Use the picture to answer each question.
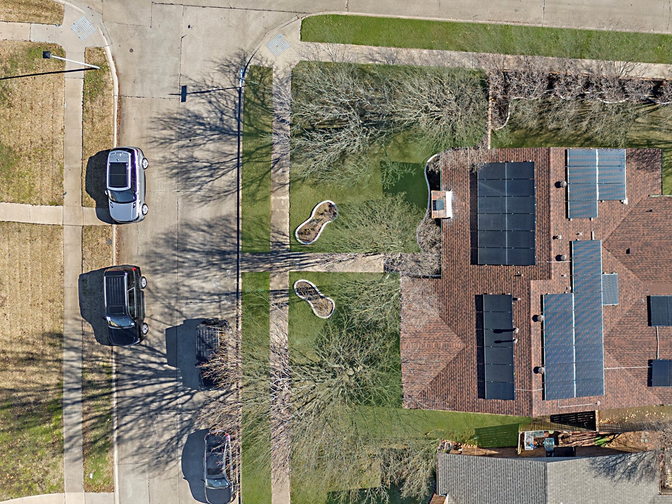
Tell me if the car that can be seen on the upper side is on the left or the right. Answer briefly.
left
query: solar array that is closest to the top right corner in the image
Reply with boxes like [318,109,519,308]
[568,148,627,218]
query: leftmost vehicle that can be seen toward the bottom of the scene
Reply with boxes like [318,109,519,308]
[101,267,148,348]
